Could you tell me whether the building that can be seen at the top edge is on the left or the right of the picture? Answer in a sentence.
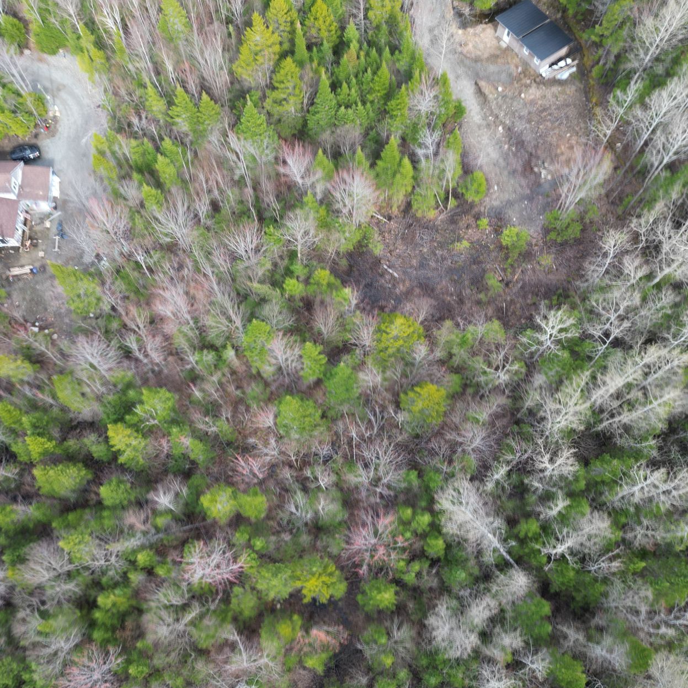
It is on the right.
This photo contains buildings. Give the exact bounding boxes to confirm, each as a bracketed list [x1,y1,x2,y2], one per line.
[495,0,574,74]
[0,162,55,247]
